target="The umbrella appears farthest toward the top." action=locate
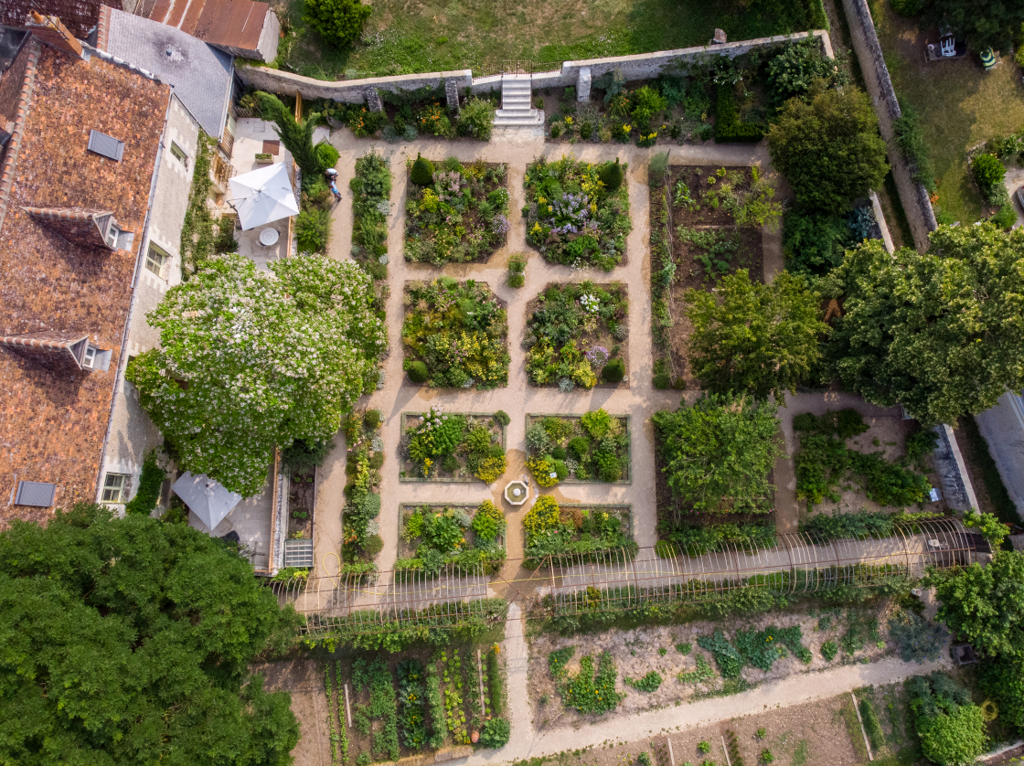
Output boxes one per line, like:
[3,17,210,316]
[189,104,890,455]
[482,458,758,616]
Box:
[217,162,300,232]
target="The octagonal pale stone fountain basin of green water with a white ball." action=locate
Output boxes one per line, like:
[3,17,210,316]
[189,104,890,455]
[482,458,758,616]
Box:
[504,480,529,505]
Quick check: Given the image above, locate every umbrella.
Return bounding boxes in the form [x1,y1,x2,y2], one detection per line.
[217,162,300,232]
[156,467,243,530]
